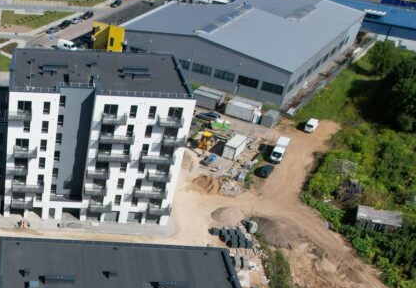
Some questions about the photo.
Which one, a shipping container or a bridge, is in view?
shipping container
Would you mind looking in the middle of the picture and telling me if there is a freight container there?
Yes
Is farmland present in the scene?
No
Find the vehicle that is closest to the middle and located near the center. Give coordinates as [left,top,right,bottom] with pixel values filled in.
[193,133,214,148]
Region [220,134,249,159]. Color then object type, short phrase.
white shipping container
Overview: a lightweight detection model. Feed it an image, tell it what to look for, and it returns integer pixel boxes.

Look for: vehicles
[255,165,271,178]
[58,21,74,29]
[57,37,76,48]
[44,28,61,35]
[80,12,95,19]
[272,131,291,158]
[193,133,214,148]
[192,111,215,121]
[304,116,317,132]
[69,17,83,24]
